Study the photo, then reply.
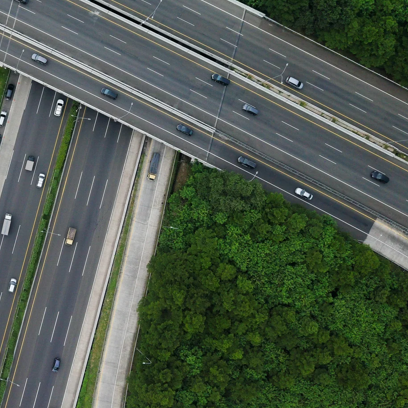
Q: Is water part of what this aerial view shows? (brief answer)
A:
No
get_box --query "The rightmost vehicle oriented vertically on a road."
[147,151,160,181]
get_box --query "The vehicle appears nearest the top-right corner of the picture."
[285,76,303,89]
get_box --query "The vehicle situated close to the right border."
[370,171,389,185]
